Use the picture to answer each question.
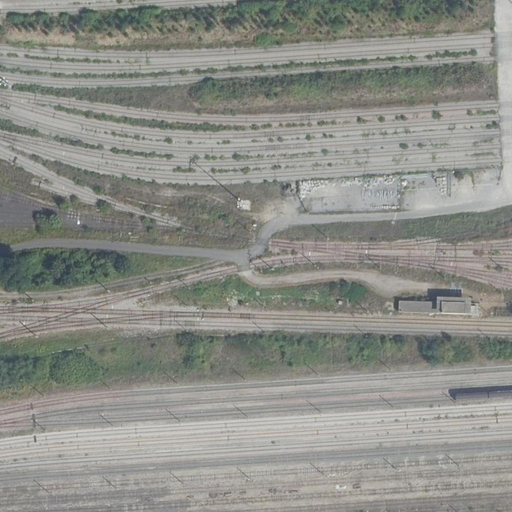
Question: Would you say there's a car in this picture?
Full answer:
No, there is no car in the image.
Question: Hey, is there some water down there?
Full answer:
No, there is no water in the image.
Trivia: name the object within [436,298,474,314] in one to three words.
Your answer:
building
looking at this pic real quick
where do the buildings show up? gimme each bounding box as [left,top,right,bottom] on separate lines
[400,300,434,312]
[436,298,474,314]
